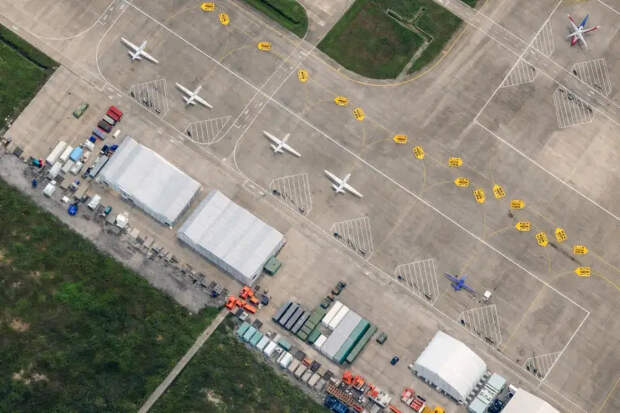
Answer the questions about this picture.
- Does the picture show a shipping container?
Yes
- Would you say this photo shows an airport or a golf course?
airport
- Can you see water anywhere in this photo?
No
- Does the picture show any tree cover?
No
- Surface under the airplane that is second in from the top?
apron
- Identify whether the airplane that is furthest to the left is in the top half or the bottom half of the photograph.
top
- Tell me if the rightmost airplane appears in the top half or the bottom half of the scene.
bottom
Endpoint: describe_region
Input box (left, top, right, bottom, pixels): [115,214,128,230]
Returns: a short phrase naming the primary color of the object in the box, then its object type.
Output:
white vehicle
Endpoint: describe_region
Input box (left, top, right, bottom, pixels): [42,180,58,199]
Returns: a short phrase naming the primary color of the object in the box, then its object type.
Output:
white vehicle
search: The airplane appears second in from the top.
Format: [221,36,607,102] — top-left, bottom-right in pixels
[176,82,212,108]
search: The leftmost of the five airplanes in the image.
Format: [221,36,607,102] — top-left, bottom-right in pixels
[124,36,159,62]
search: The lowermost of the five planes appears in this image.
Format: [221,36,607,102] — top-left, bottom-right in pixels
[444,271,477,294]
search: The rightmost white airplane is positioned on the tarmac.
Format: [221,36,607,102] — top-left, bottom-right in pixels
[325,171,362,197]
